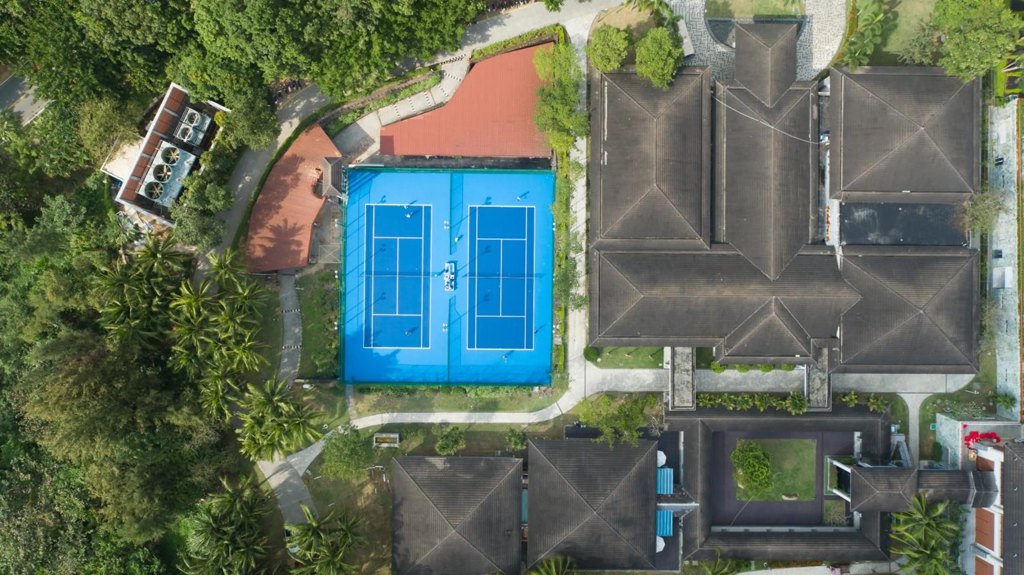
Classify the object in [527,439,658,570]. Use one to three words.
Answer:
house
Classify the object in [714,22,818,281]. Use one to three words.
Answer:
building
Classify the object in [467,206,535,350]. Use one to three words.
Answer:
tennis court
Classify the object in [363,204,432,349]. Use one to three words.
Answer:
tennis court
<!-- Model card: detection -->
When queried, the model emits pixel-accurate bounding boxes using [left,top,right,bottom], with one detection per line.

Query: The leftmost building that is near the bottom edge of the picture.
[391,457,522,575]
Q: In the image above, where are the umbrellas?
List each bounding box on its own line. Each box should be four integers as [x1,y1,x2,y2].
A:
[656,536,665,553]
[657,450,667,469]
